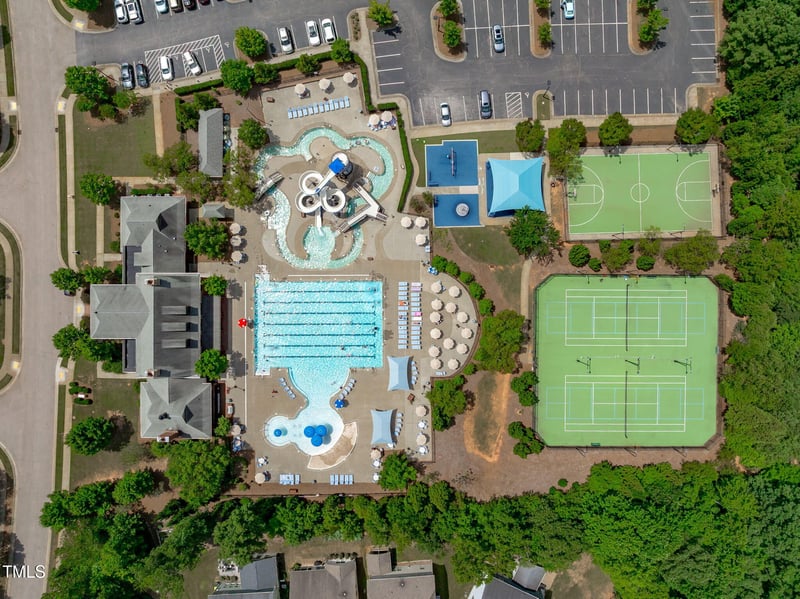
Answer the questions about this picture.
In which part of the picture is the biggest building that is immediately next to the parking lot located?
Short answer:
left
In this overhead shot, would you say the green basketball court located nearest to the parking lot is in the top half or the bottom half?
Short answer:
top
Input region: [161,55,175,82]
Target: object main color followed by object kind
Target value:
white car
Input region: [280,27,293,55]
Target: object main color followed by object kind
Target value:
white vehicle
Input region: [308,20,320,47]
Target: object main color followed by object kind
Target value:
white vehicle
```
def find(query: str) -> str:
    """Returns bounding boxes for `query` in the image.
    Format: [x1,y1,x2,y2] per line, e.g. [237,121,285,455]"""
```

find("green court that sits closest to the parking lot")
[565,147,723,240]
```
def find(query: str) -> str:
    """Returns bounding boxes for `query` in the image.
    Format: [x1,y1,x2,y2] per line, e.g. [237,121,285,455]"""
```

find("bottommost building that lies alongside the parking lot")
[89,197,226,444]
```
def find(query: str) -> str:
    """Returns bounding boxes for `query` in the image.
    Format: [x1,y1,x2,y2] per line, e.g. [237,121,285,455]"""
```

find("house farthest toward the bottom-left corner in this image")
[208,547,282,599]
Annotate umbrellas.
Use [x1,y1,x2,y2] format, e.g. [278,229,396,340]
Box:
[445,302,455,312]
[231,425,241,434]
[432,299,441,309]
[416,217,425,227]
[431,329,441,338]
[320,80,330,90]
[416,235,426,244]
[381,112,391,122]
[344,73,354,84]
[449,287,459,297]
[448,358,459,368]
[402,217,411,227]
[295,84,305,94]
[430,346,440,356]
[458,312,468,322]
[230,223,241,234]
[371,449,381,459]
[370,116,379,126]
[430,312,441,322]
[432,359,441,369]
[457,344,467,354]
[444,338,453,348]
[231,237,241,246]
[416,406,426,416]
[416,434,426,444]
[430,282,441,292]
[232,251,242,262]
[255,472,266,482]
